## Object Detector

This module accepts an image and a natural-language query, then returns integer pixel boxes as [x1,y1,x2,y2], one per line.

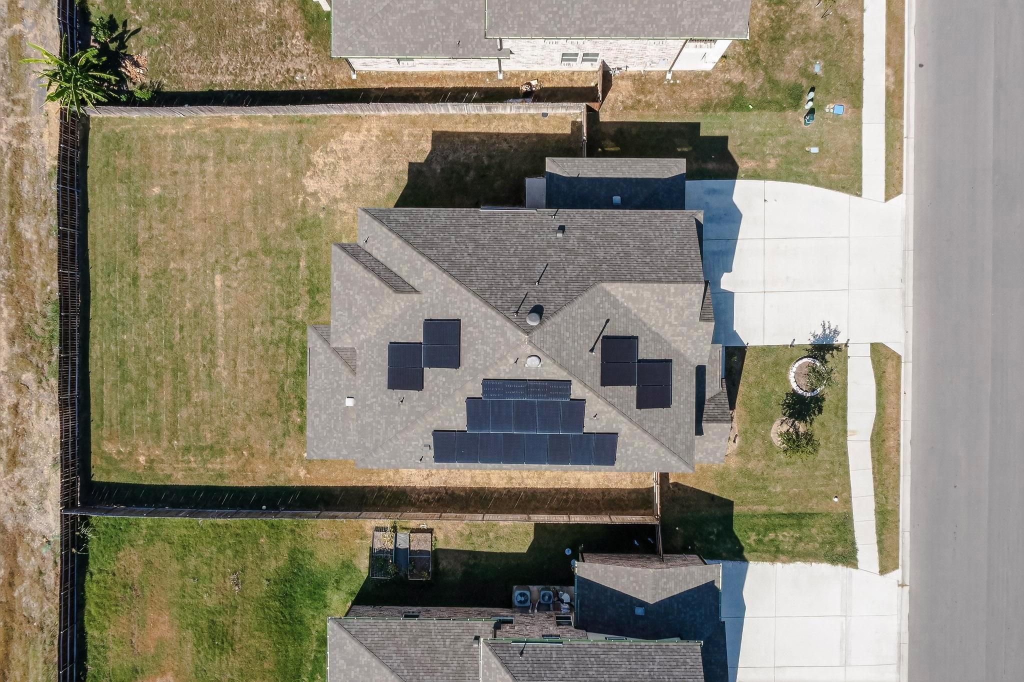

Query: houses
[317,0,753,76]
[324,548,728,682]
[304,156,731,473]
